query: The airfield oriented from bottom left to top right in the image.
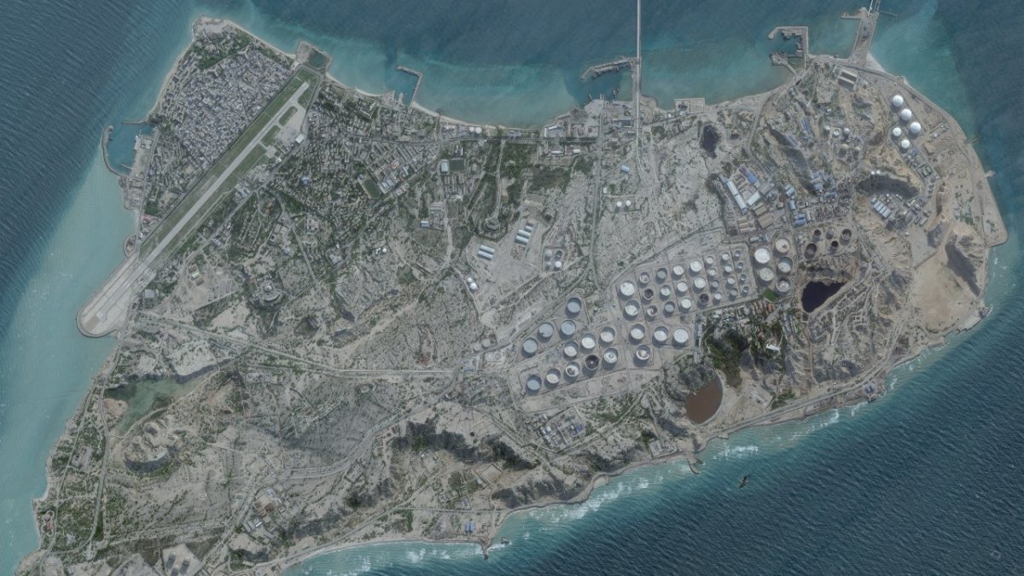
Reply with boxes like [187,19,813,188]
[79,70,323,334]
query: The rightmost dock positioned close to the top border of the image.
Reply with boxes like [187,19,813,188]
[841,0,896,57]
